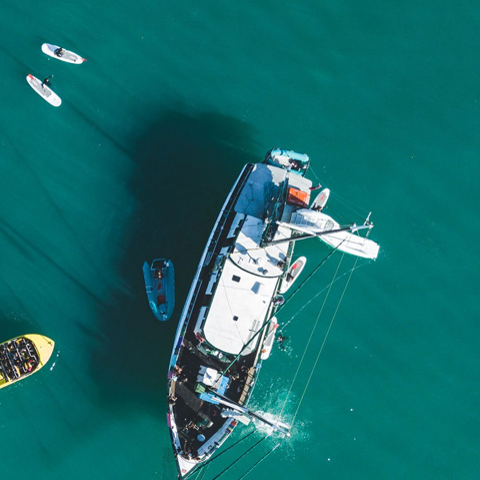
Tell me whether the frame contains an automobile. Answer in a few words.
No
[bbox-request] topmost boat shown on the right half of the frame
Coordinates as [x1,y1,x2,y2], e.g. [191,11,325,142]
[268,149,316,179]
